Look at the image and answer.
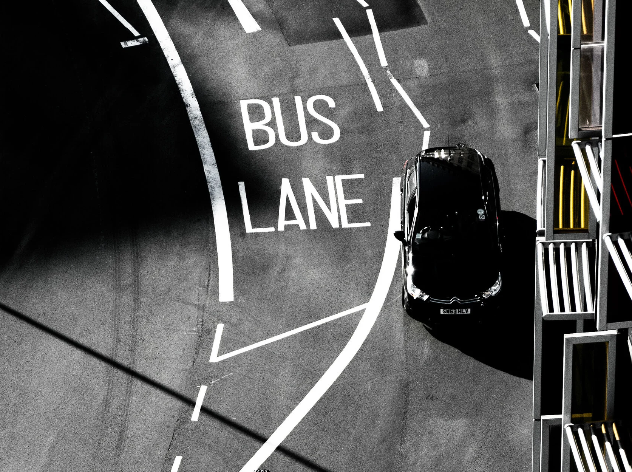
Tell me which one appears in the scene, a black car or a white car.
black car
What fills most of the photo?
paved ground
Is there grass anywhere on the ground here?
No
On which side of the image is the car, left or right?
right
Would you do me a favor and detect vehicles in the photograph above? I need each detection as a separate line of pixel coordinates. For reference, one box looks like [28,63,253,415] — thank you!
[390,128,516,325]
